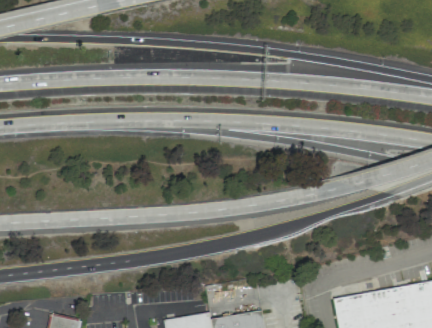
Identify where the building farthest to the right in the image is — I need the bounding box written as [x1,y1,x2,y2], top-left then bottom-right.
[334,280,432,328]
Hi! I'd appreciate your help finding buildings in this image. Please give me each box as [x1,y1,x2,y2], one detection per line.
[50,314,82,328]
[334,280,432,328]
[164,313,211,328]
[212,312,262,328]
